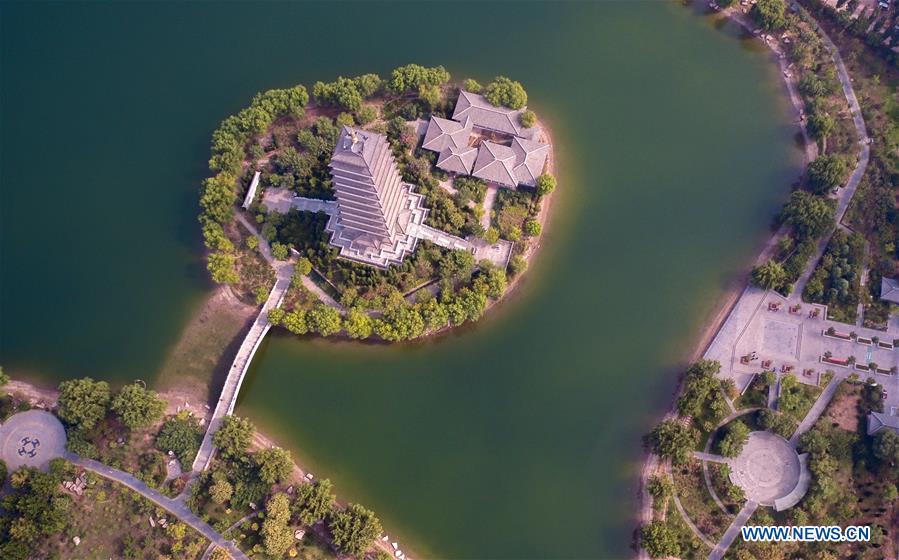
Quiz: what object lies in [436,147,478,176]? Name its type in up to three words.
building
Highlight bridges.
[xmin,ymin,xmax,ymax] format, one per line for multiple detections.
[187,267,292,484]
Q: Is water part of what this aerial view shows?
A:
Yes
